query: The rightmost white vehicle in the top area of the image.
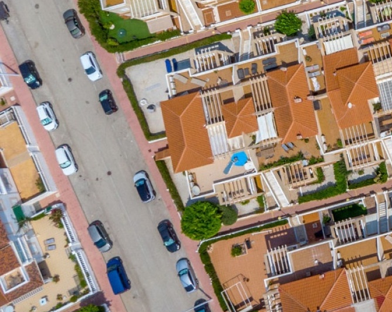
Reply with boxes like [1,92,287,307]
[83,53,101,80]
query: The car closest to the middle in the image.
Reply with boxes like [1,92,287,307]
[135,173,155,201]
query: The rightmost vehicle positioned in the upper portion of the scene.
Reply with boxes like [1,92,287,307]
[100,90,119,115]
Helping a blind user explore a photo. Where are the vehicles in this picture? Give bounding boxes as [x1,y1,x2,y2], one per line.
[196,300,210,312]
[135,173,155,201]
[107,258,129,293]
[57,146,77,174]
[178,259,198,291]
[36,101,58,131]
[100,90,119,115]
[65,10,85,36]
[88,220,112,251]
[159,222,179,250]
[20,61,42,89]
[83,53,101,80]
